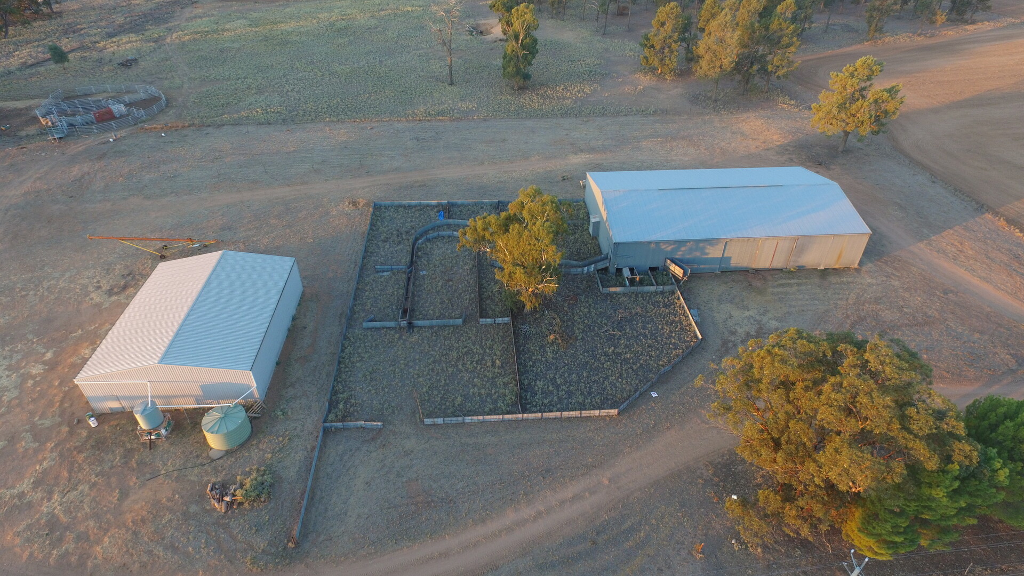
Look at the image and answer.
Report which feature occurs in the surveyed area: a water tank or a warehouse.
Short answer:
water tank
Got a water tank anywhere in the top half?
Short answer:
No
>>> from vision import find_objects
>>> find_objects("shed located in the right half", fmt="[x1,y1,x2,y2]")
[575,165,874,275]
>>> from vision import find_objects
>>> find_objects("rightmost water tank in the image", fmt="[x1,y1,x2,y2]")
[202,402,252,450]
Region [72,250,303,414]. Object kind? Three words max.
shed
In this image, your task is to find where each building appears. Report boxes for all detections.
[72,250,303,414]
[575,165,874,275]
